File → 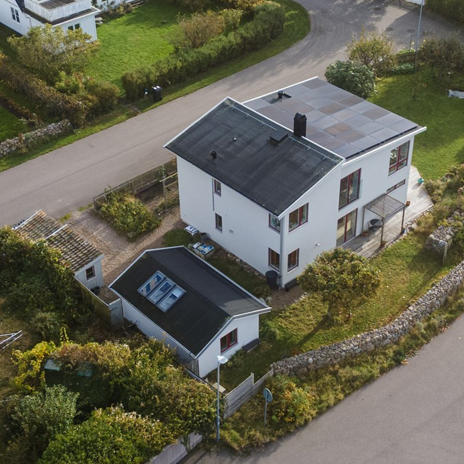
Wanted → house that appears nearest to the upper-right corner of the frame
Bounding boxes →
[165,78,431,289]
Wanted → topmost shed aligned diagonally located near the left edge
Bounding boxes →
[14,208,106,290]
